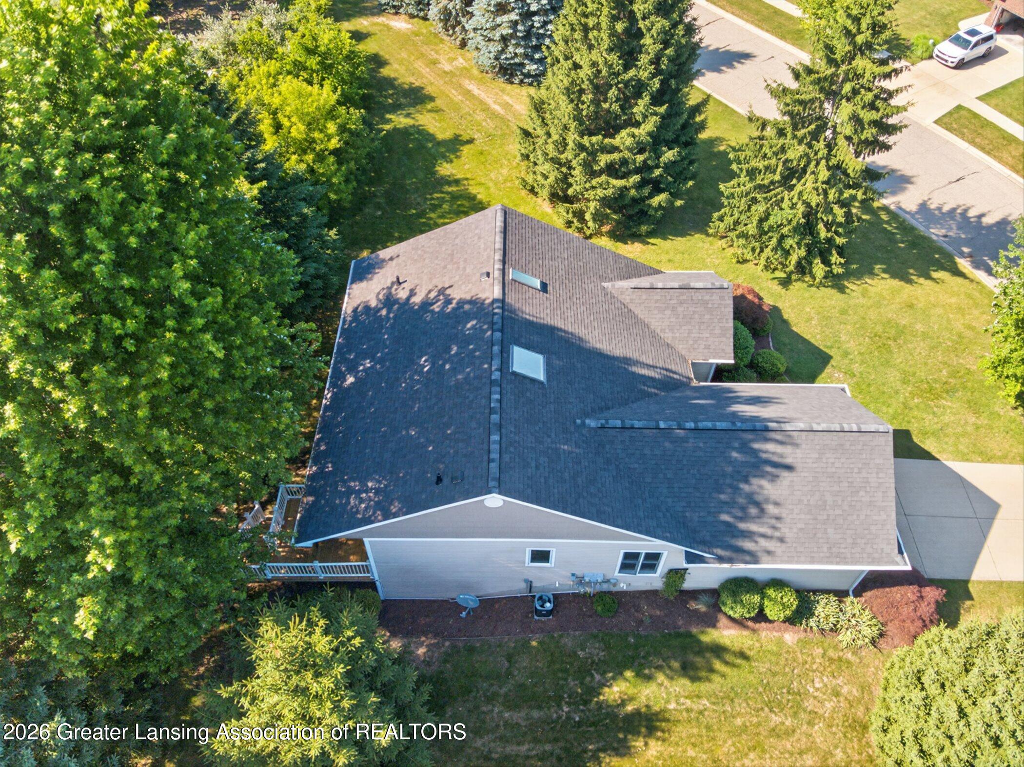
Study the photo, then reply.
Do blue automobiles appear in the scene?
No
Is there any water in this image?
No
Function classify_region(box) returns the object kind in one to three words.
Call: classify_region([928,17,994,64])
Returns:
car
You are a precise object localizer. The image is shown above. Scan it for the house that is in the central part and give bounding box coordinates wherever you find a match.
[291,205,913,604]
